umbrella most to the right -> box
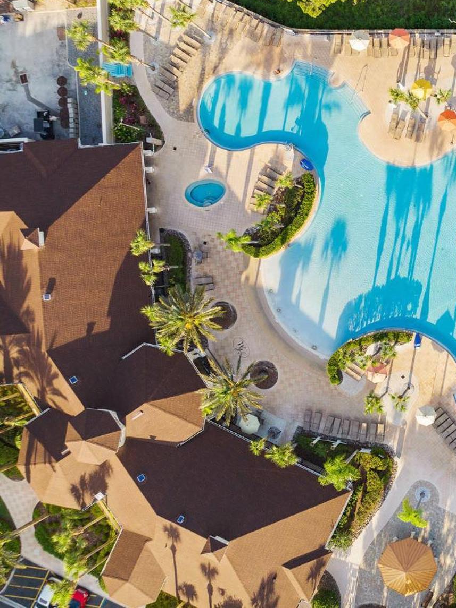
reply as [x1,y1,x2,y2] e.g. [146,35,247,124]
[438,110,456,130]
